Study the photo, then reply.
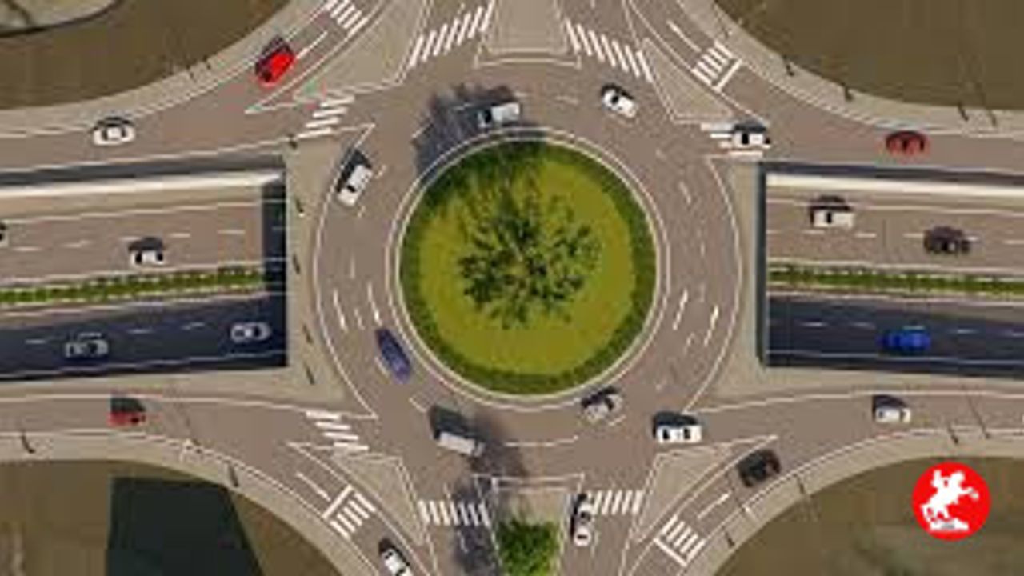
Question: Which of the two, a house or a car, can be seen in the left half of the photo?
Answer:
car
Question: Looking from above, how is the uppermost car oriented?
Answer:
diagonally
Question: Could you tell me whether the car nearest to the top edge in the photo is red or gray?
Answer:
red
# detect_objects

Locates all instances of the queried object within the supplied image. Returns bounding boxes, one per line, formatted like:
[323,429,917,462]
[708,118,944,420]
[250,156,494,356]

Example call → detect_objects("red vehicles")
[259,47,294,83]
[885,135,926,153]
[110,408,148,426]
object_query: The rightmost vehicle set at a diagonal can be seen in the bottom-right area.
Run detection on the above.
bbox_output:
[738,451,780,486]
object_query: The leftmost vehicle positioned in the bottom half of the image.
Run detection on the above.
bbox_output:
[66,340,108,356]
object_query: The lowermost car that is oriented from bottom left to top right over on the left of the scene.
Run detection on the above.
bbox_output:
[336,156,375,201]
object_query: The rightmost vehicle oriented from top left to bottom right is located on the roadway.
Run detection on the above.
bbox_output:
[601,87,637,117]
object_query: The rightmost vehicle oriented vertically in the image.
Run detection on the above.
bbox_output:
[575,499,593,545]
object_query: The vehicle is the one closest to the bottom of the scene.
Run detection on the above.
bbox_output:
[379,540,414,576]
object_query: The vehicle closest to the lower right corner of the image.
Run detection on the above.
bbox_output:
[871,404,909,422]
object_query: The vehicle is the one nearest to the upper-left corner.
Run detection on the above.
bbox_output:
[94,123,134,141]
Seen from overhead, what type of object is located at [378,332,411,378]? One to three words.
car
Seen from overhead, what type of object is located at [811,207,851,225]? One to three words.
car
